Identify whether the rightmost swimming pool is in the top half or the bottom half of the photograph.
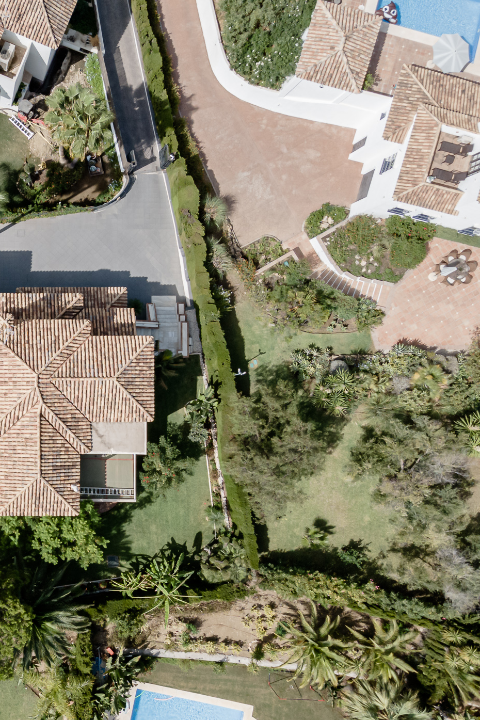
top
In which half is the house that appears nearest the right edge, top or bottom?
top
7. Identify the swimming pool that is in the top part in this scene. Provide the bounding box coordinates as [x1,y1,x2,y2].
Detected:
[367,0,480,74]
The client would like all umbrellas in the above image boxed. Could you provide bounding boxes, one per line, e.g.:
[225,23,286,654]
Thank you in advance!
[427,267,460,282]
[421,39,463,74]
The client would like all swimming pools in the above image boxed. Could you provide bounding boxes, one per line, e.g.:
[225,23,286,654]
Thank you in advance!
[112,681,258,720]
[367,0,480,74]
